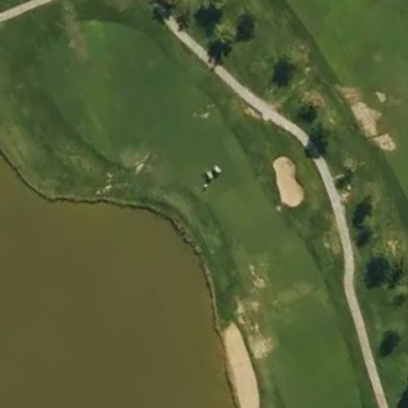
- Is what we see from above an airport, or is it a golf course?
golf course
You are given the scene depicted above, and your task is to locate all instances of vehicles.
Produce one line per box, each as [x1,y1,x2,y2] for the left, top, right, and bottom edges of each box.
[213,164,222,174]
[206,170,214,180]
